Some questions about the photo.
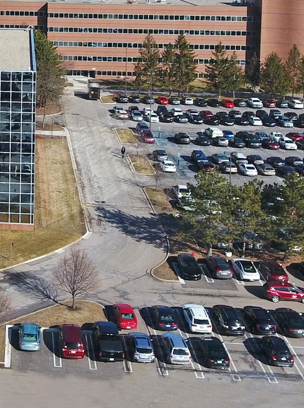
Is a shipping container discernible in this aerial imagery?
No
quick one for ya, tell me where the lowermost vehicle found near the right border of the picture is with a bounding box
[255,335,292,375]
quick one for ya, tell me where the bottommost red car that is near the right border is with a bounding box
[261,277,304,302]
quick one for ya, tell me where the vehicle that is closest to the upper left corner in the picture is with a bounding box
[87,81,101,99]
